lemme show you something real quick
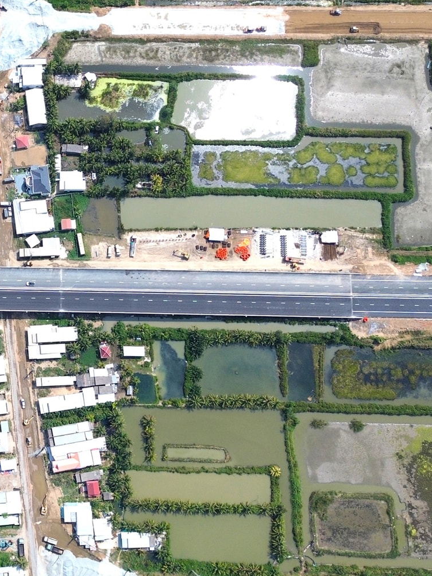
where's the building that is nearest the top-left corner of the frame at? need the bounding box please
[9,58,46,90]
